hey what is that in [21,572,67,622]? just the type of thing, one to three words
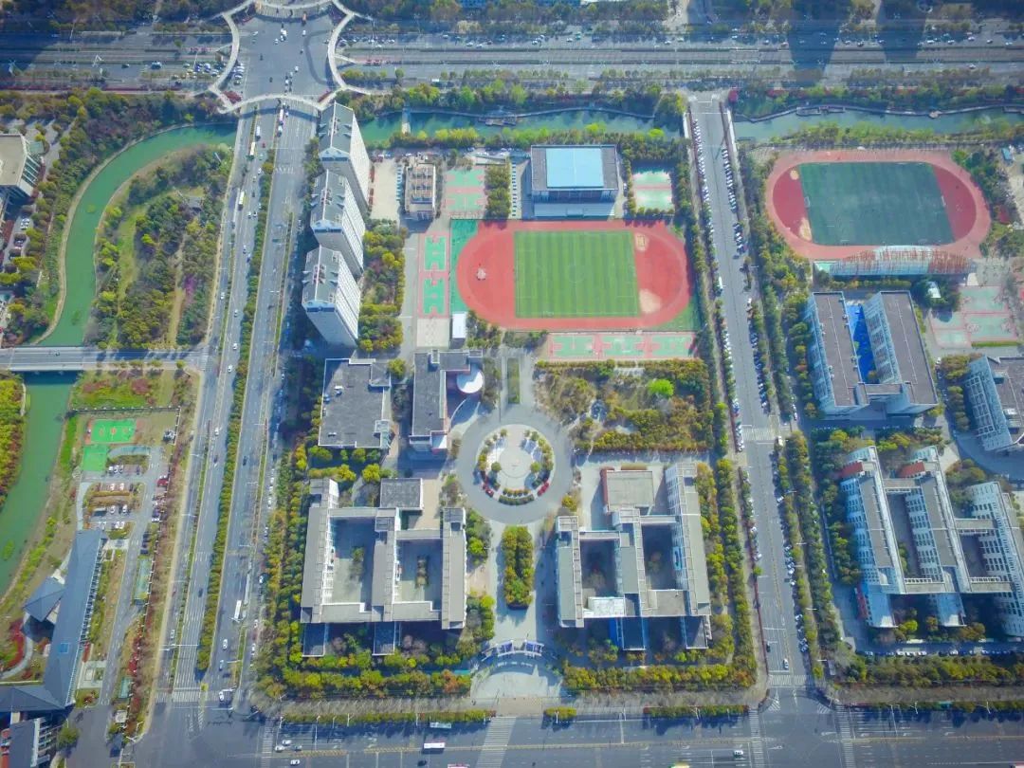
building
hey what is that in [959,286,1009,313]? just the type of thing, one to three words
basketball court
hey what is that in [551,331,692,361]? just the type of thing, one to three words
basketball court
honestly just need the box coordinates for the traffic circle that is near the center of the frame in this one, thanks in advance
[474,425,555,505]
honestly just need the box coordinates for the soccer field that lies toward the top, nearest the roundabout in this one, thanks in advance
[514,230,641,316]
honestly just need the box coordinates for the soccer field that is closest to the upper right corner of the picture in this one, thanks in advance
[799,160,957,246]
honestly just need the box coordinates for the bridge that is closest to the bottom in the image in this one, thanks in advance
[9,346,95,373]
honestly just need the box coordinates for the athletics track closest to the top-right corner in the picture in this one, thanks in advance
[765,149,990,272]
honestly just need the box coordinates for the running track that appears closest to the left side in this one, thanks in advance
[449,219,700,331]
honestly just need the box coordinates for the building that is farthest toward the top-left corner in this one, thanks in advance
[0,133,39,196]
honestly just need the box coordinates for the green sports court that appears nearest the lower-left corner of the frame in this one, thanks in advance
[81,446,108,470]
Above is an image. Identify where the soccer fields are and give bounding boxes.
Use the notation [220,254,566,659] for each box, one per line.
[514,230,641,316]
[799,160,957,246]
